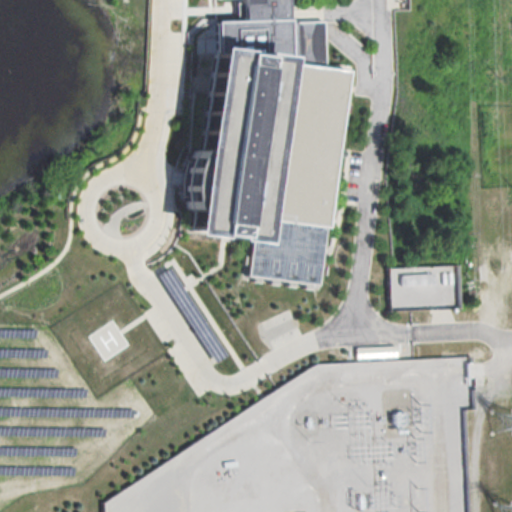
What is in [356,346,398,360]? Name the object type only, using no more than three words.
building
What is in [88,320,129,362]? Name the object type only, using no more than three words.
helipad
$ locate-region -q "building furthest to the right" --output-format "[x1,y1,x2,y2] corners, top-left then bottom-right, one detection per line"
[390,266,462,310]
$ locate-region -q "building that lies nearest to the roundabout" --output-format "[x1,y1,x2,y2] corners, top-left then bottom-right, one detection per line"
[184,0,352,290]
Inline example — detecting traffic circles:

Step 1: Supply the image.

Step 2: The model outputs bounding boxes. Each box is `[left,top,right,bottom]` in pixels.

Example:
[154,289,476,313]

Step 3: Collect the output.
[83,174,159,250]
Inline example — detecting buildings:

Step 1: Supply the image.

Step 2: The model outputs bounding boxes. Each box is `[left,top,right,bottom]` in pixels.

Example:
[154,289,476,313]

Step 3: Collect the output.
[356,346,398,360]
[184,0,352,290]
[390,266,462,310]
